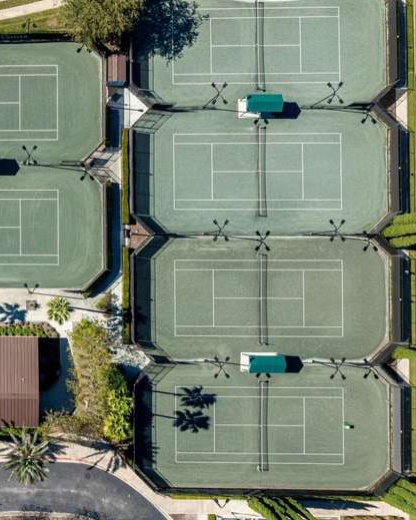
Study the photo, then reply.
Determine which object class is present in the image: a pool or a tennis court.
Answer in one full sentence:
Visible in the photo is a tennis court.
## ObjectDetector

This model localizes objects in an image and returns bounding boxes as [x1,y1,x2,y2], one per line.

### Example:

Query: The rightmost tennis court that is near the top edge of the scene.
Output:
[134,0,388,108]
